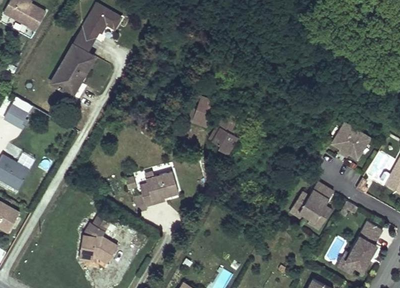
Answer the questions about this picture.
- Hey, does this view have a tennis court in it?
No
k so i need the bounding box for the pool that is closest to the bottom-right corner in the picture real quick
[324,238,346,264]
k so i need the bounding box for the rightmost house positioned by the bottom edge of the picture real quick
[340,220,382,276]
